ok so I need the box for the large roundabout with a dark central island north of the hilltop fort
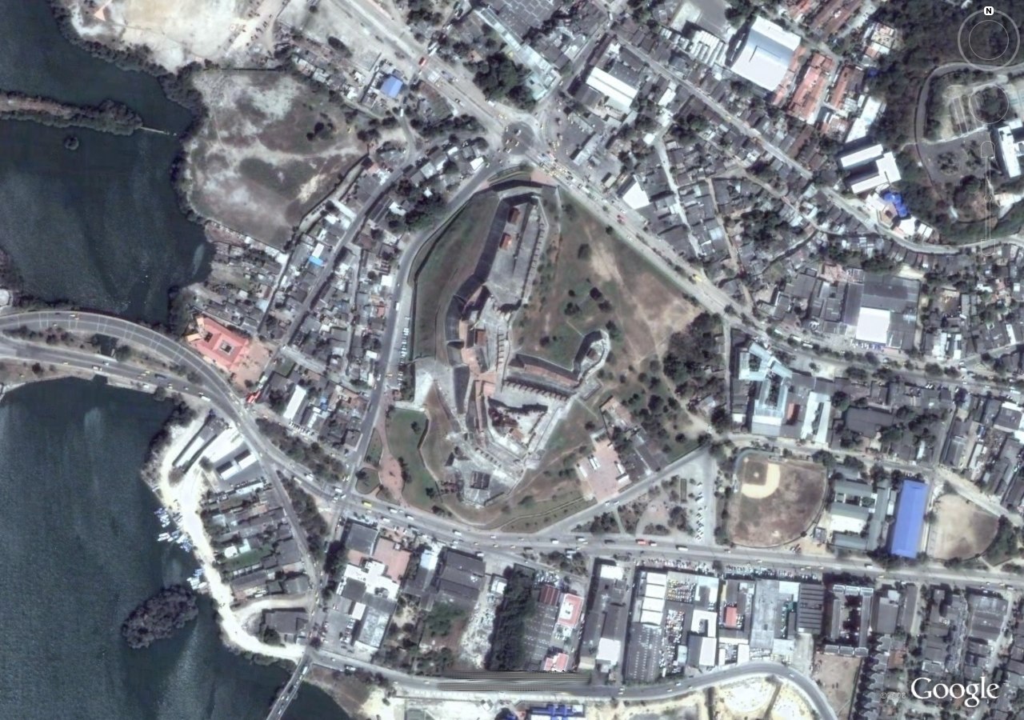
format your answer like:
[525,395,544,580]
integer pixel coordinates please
[497,116,547,157]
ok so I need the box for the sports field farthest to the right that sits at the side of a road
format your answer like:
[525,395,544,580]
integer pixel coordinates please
[931,494,998,560]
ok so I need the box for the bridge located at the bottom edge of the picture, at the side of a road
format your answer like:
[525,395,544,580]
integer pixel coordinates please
[269,644,315,720]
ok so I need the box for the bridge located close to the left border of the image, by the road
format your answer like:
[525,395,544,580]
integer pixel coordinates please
[0,312,246,427]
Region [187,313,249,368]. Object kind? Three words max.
house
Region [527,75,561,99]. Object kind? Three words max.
building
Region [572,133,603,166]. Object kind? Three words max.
building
